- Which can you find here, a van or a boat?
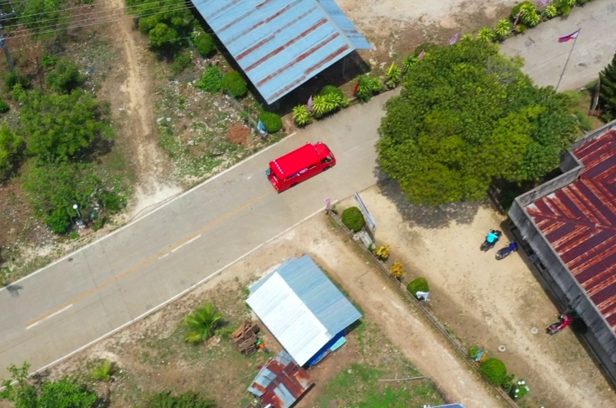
van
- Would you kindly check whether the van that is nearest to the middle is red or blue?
red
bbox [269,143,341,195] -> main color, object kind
red van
